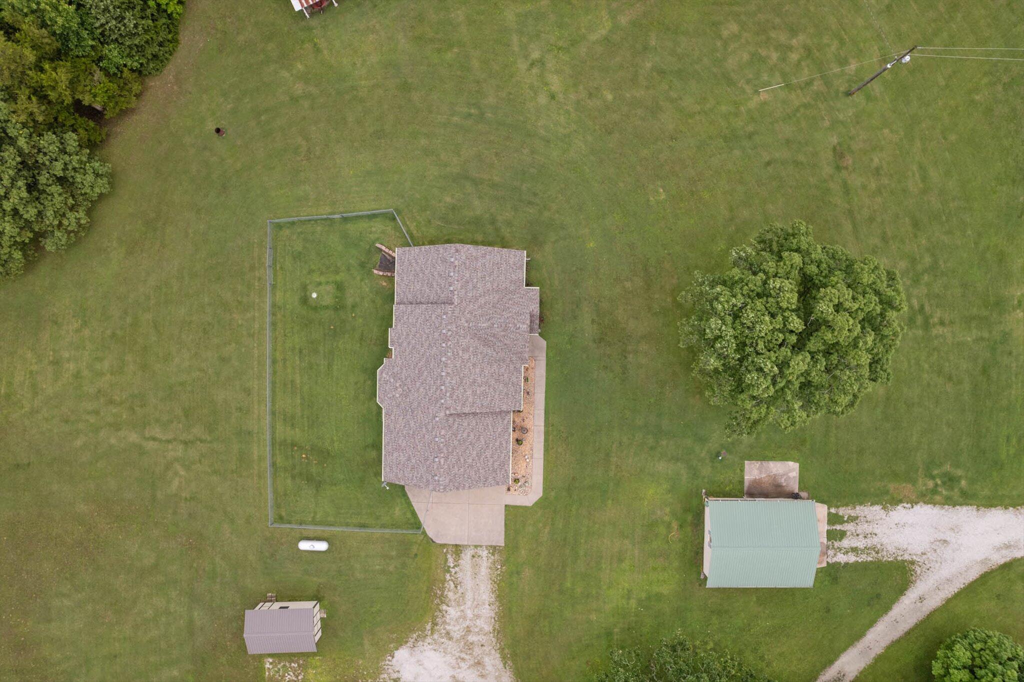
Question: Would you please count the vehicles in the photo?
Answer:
zero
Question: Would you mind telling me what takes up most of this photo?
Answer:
grass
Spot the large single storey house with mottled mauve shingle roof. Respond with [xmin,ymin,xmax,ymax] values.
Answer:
[376,244,540,492]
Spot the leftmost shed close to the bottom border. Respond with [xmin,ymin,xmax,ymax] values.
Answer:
[243,601,322,654]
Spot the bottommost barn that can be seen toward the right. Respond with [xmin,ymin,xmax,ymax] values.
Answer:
[703,496,828,588]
